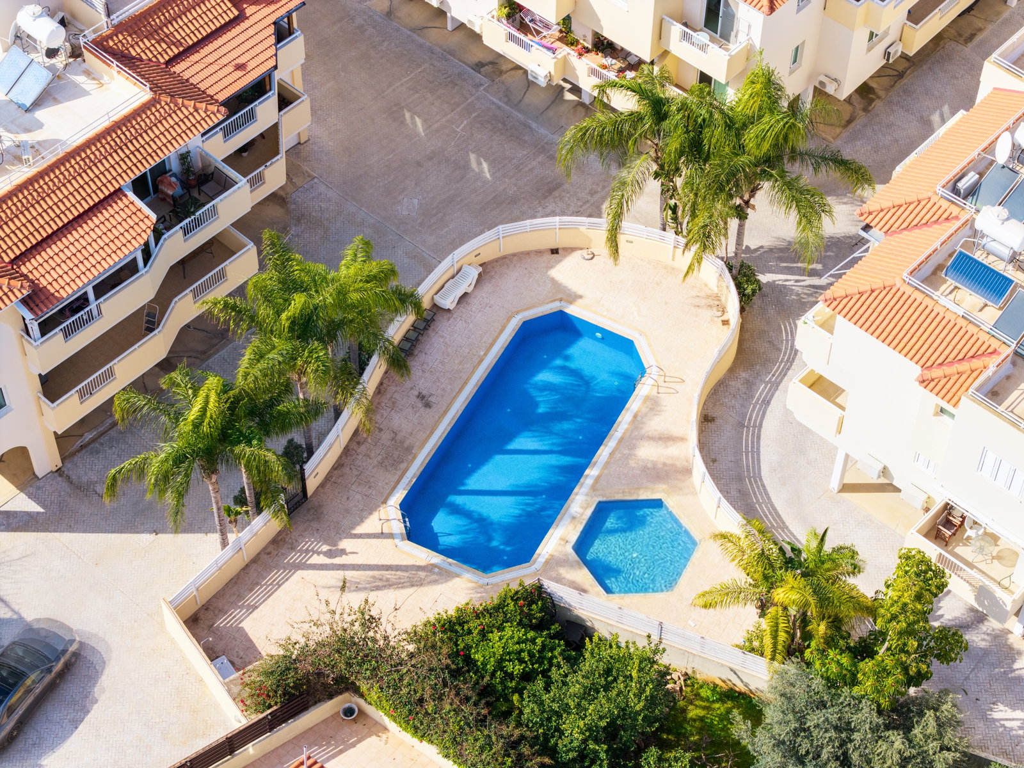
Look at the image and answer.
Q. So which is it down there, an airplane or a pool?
pool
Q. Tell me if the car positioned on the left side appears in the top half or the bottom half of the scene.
bottom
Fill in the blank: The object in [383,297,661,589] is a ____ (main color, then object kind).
blue swimming pool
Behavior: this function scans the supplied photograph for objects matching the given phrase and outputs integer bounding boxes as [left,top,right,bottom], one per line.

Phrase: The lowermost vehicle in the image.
[0,616,79,750]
